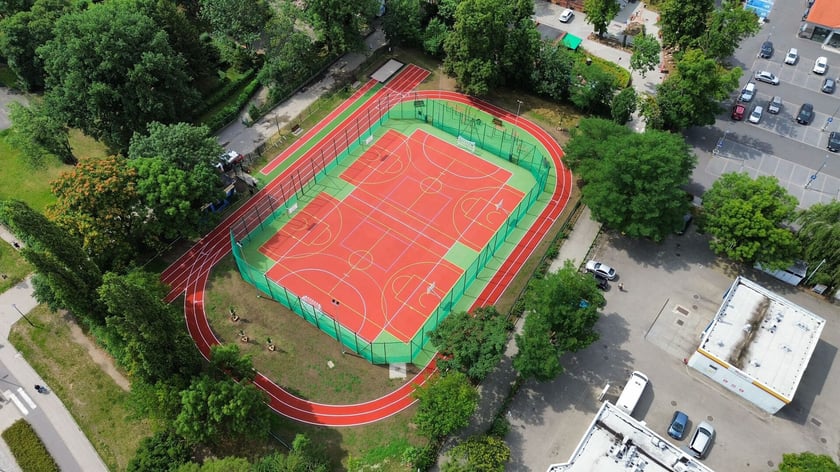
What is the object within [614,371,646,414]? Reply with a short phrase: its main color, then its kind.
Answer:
white van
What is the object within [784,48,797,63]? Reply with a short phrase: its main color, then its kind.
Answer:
white vehicle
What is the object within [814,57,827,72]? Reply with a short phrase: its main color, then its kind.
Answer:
white vehicle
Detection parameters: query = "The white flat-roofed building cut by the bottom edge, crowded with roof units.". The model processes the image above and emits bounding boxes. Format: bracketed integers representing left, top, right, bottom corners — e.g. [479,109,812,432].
[554,399,717,472]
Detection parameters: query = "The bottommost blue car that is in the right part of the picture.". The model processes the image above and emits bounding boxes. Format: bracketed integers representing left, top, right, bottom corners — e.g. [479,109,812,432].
[667,409,690,441]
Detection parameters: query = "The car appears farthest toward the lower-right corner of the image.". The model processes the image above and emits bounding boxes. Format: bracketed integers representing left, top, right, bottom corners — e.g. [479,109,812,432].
[691,421,714,463]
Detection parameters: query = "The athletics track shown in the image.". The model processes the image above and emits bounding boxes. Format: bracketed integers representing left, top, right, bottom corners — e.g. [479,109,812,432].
[155,63,570,422]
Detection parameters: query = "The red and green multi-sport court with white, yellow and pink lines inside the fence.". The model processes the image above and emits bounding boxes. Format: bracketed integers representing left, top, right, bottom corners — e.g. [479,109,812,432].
[235,101,555,384]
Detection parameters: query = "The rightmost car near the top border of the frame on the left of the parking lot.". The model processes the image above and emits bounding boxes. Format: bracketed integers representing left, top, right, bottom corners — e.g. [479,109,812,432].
[560,7,573,21]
